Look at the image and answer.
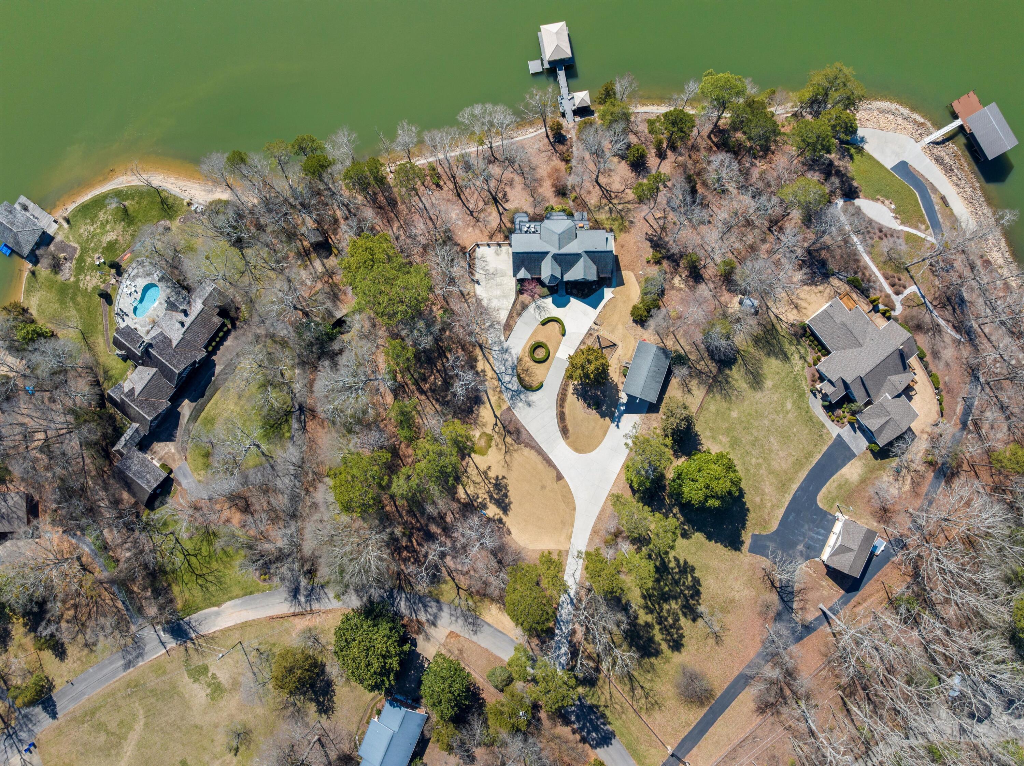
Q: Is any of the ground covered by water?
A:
Yes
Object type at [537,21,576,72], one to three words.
building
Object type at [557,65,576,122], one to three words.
pier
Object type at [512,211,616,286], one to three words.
house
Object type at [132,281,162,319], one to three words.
swimming pool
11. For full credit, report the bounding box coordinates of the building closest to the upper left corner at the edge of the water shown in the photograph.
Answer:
[0,195,61,266]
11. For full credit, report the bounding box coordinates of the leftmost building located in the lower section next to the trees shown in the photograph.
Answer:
[0,491,41,544]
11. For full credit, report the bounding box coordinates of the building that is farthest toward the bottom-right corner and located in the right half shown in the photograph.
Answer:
[816,516,879,578]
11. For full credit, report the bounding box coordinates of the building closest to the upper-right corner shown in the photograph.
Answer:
[944,90,1019,165]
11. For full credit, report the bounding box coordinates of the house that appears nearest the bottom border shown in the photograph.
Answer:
[353,693,428,766]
